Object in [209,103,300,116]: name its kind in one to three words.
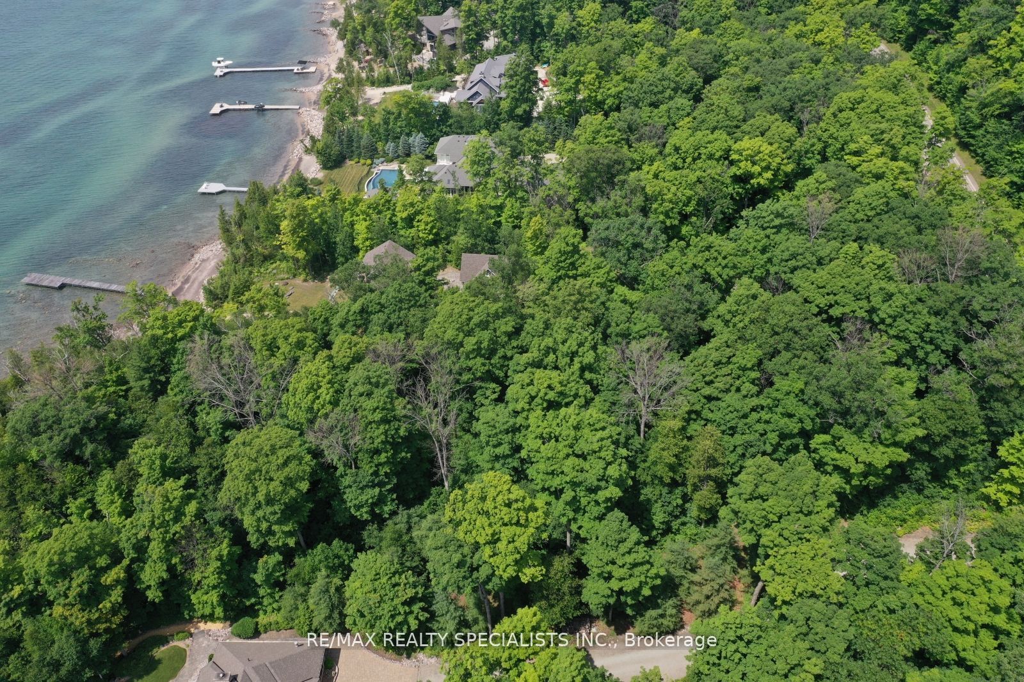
pier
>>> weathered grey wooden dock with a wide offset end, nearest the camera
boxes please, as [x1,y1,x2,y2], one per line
[21,273,149,297]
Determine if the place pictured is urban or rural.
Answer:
rural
